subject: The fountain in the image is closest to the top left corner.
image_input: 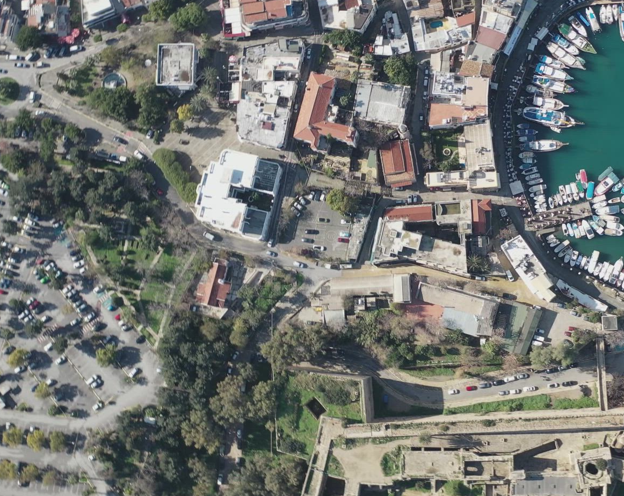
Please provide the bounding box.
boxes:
[102,69,126,93]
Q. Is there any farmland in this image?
No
